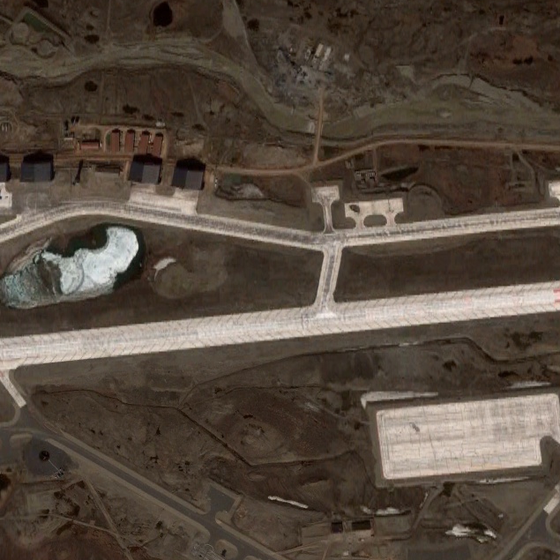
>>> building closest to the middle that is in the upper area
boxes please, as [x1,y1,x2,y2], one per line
[171,166,204,190]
